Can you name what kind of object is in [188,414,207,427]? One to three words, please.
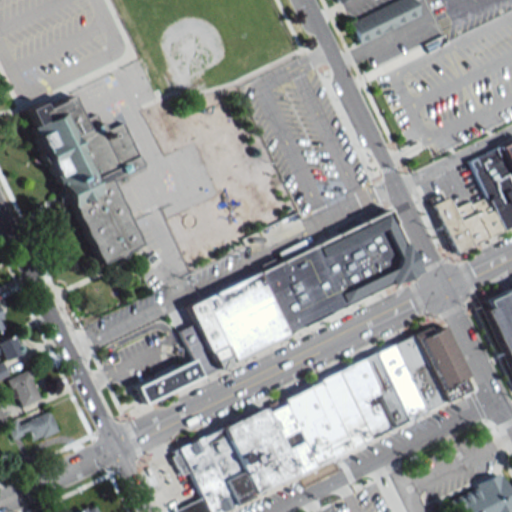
vehicle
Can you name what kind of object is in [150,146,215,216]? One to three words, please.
sports court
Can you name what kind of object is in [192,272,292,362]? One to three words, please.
building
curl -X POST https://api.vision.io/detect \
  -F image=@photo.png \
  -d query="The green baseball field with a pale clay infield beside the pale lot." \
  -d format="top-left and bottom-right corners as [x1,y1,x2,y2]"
[114,0,297,98]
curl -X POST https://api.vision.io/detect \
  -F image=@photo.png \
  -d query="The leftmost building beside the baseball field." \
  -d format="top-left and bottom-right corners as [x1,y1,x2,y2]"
[36,98,146,264]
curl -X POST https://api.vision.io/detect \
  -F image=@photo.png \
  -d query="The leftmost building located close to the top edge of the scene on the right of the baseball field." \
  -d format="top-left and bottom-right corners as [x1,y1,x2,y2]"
[358,0,422,44]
